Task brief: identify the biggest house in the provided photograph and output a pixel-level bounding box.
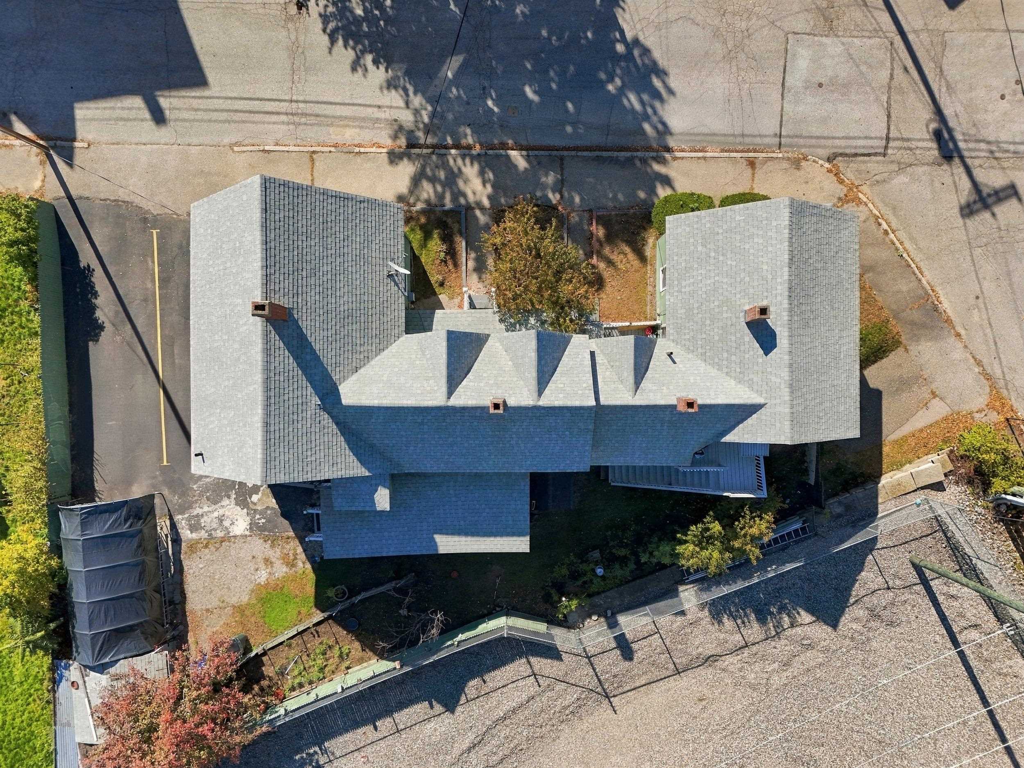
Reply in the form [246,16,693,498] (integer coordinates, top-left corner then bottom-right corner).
[190,175,859,556]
